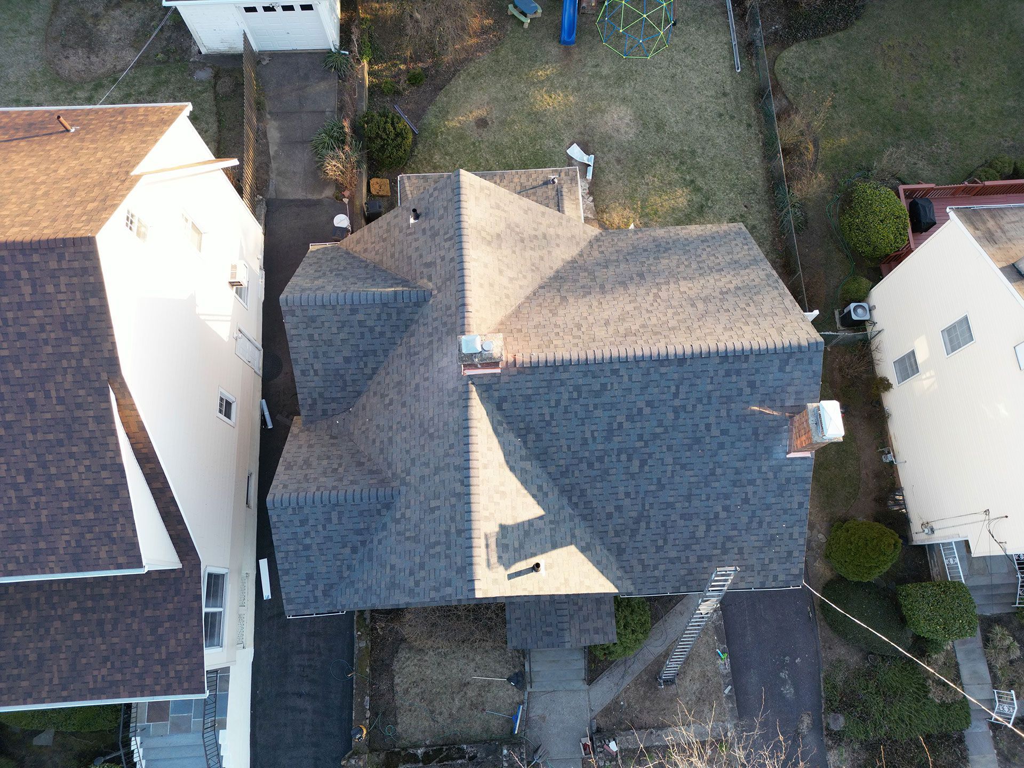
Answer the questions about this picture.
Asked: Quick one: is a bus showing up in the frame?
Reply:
No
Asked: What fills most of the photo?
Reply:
buildings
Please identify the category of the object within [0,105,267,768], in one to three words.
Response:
house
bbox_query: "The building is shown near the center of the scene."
[263,165,851,694]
